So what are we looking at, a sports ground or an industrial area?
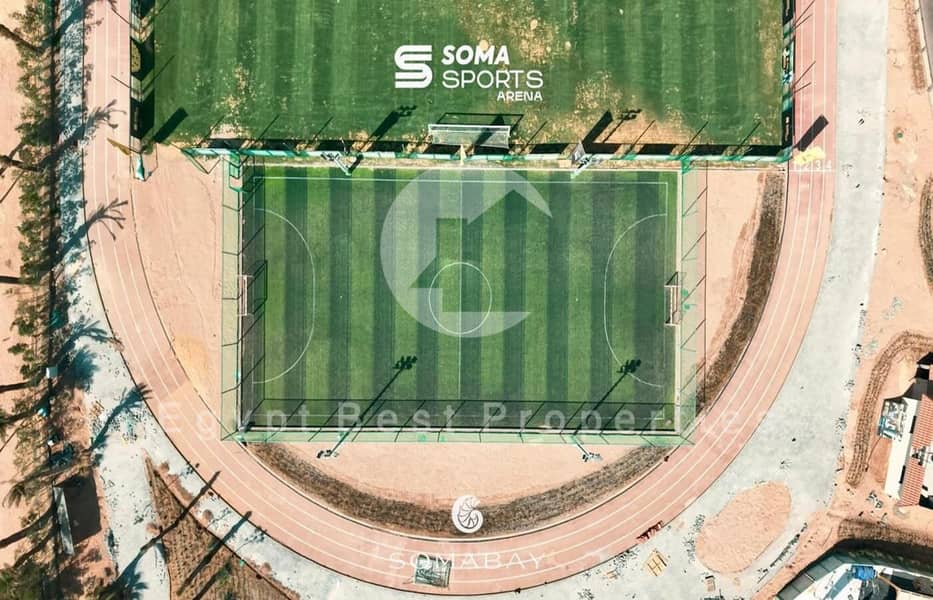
sports ground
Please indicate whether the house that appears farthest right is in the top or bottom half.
bottom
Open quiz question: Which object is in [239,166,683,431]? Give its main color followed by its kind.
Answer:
green soccer field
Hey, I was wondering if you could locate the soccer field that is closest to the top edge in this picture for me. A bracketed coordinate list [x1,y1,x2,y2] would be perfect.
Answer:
[147,0,784,158]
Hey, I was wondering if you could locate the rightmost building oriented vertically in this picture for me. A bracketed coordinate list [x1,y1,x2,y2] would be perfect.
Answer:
[874,367,933,514]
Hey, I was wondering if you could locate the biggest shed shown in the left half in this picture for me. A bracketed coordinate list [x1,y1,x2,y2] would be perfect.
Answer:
[54,481,88,554]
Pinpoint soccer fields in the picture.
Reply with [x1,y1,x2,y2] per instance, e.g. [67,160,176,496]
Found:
[147,0,784,158]
[239,166,683,431]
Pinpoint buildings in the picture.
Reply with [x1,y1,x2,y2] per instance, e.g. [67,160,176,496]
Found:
[54,481,88,554]
[765,554,933,600]
[874,367,933,514]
